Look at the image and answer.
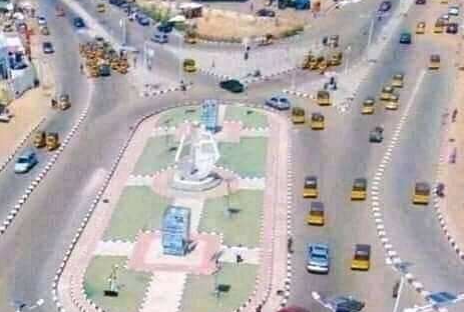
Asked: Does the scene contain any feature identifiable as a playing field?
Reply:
No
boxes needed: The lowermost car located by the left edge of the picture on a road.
[11,150,39,175]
